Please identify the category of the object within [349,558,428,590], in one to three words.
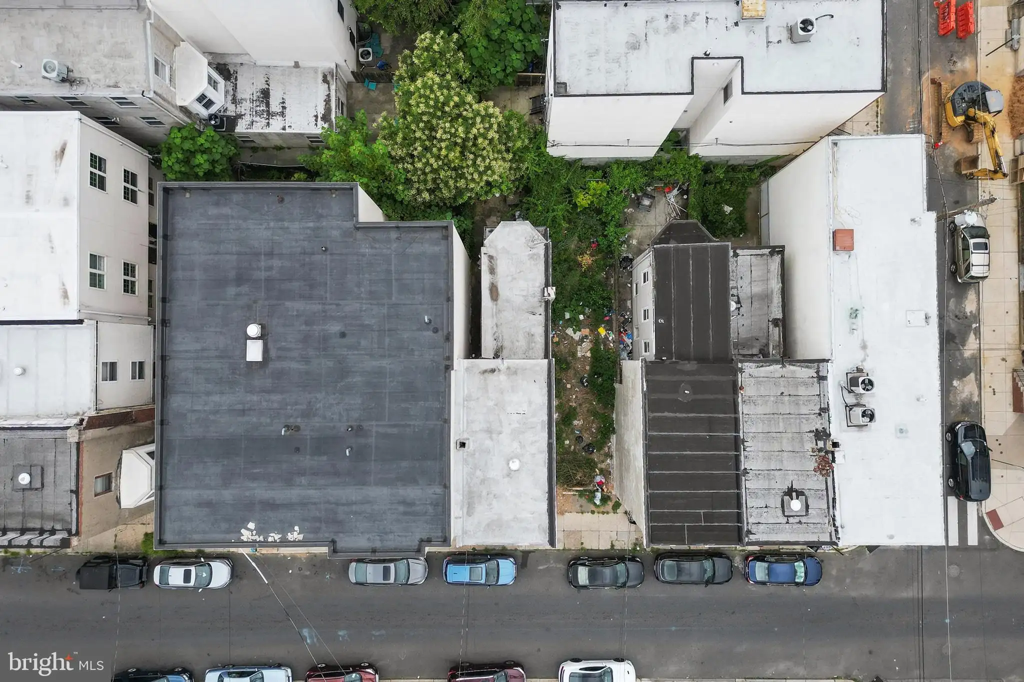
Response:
car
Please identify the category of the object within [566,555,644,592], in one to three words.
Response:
car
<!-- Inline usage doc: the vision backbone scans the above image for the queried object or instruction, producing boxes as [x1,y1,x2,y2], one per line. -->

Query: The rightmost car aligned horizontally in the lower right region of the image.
[742,553,822,590]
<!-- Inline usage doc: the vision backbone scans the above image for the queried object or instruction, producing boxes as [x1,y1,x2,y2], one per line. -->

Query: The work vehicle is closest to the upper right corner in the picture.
[936,85,1010,180]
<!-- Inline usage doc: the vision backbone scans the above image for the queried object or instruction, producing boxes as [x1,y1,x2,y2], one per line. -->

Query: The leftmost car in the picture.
[68,552,151,592]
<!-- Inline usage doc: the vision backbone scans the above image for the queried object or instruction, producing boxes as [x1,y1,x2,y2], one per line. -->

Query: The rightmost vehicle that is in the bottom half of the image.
[943,420,991,504]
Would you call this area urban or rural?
urban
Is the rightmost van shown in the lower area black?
Yes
